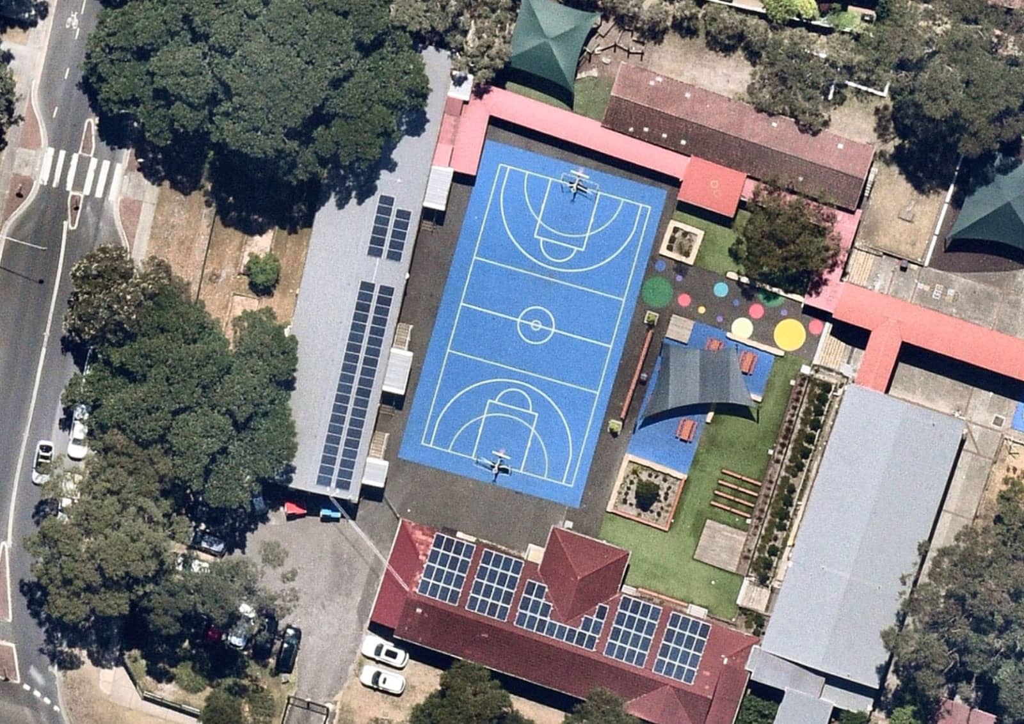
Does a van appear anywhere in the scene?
Yes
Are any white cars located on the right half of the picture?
No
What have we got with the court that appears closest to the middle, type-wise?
basketball court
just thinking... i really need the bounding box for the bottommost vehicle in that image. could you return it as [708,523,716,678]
[359,666,407,696]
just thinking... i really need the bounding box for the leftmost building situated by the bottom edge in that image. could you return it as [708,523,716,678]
[369,519,760,724]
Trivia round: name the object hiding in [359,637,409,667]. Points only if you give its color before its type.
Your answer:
white car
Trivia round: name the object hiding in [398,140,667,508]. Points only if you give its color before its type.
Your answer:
blue basketball court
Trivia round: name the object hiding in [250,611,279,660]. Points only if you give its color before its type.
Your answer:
black car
